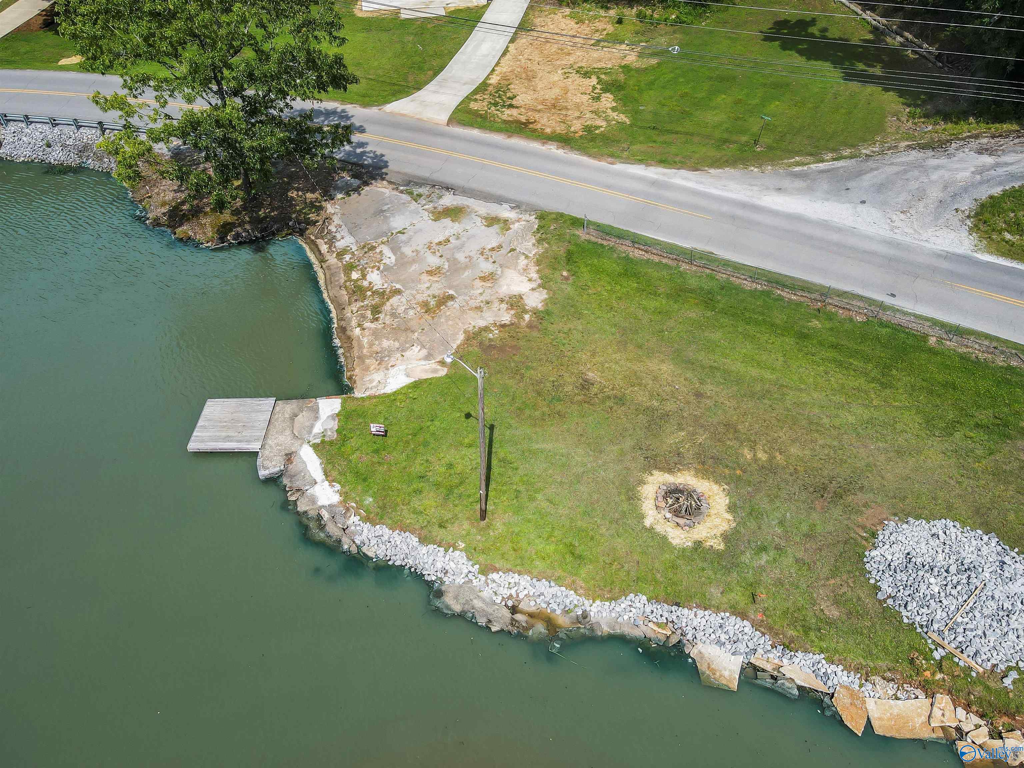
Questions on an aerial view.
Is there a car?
No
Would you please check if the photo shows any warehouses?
No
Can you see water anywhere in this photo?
Yes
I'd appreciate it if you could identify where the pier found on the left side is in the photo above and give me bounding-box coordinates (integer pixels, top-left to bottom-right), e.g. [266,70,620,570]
[187,397,277,452]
